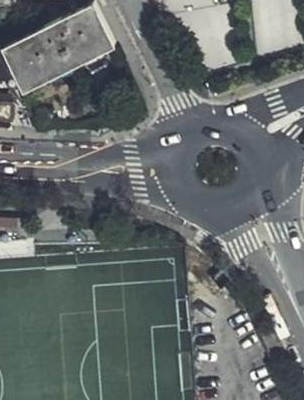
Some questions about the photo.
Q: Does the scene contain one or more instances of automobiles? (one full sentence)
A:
Yes, an automobile can be made out from above.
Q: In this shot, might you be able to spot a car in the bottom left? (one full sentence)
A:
No, no car is visible in the bottom left.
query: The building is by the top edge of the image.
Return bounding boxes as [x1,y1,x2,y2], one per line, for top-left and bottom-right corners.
[0,0,118,92]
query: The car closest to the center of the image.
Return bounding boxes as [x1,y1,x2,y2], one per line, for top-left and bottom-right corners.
[160,133,181,145]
